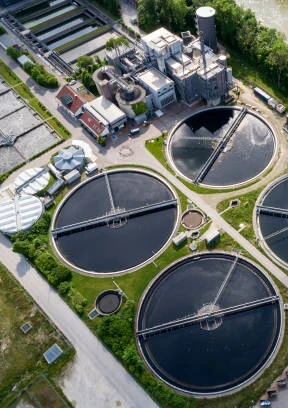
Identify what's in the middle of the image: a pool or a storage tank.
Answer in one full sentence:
Visible in the middle of the image is a storage tank.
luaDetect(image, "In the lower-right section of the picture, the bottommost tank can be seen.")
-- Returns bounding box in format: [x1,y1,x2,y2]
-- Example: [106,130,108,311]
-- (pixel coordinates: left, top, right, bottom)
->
[133,249,287,400]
